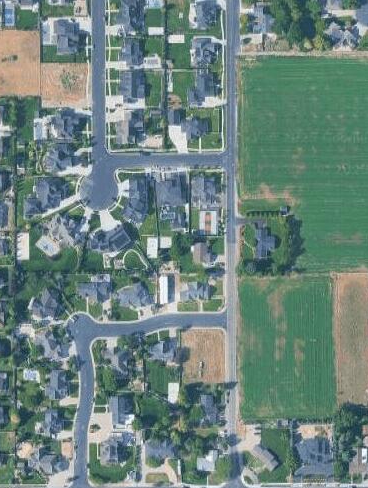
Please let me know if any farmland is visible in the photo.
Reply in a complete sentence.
Yes, some farmland is visible.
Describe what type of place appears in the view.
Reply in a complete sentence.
It's a residential area.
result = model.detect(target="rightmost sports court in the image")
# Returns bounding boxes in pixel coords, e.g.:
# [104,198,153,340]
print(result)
[200,211,218,235]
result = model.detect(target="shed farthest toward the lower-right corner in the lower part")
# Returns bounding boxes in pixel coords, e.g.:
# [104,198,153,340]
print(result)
[349,448,368,474]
